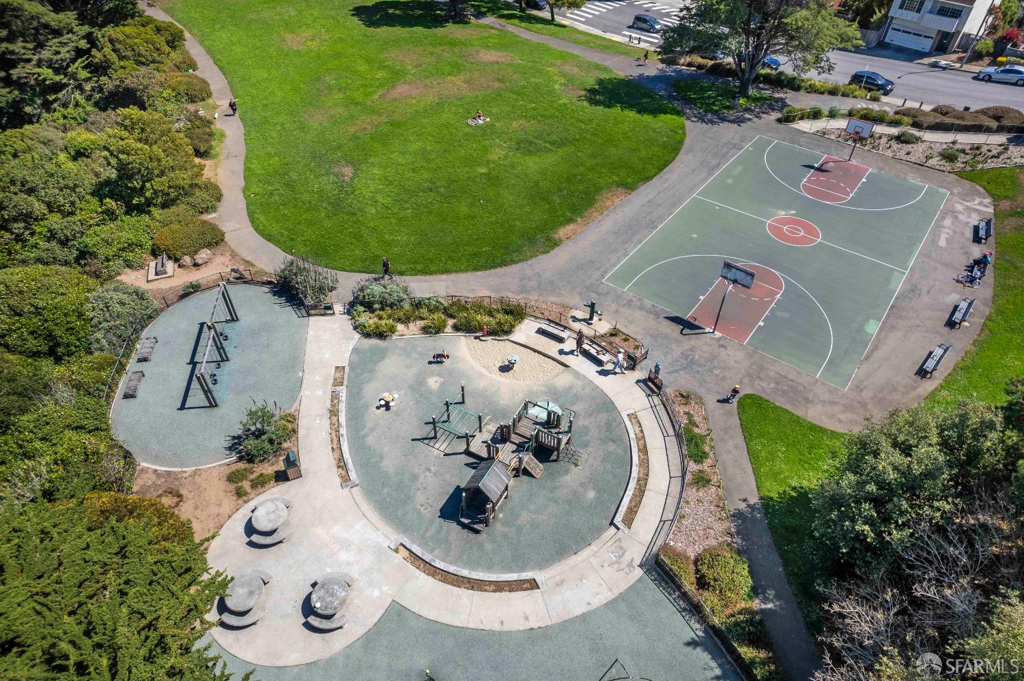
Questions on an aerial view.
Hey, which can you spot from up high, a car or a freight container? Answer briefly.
car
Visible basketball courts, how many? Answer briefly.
one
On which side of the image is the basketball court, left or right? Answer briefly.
right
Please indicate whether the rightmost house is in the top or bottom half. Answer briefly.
top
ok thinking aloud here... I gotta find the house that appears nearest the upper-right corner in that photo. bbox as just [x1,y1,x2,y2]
[884,0,985,57]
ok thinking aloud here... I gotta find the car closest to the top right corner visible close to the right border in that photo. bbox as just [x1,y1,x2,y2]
[978,60,1024,82]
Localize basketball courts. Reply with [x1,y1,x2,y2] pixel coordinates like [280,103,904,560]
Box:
[603,135,948,390]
